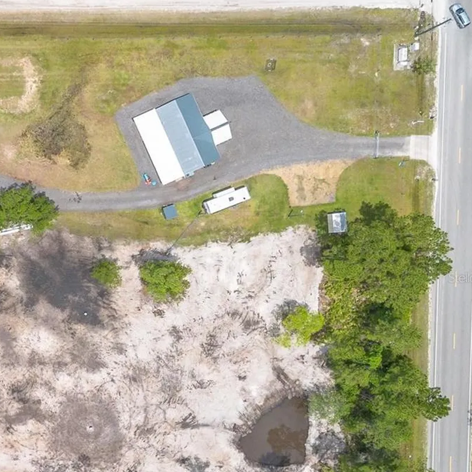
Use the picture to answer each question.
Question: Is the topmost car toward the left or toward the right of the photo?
right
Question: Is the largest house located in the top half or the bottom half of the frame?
top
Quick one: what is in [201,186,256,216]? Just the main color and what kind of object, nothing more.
white camper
